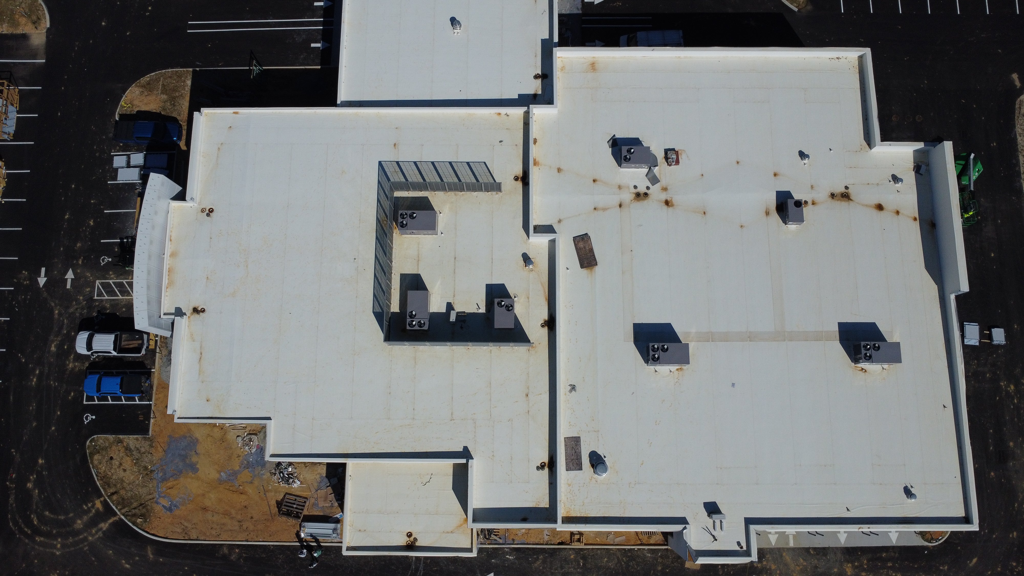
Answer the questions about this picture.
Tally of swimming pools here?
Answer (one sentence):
The picture shows no swimming pools.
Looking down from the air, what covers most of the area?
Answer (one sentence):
For the most part, this view shows buildings.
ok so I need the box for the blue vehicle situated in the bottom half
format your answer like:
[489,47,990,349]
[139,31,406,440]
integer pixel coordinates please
[81,371,153,400]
